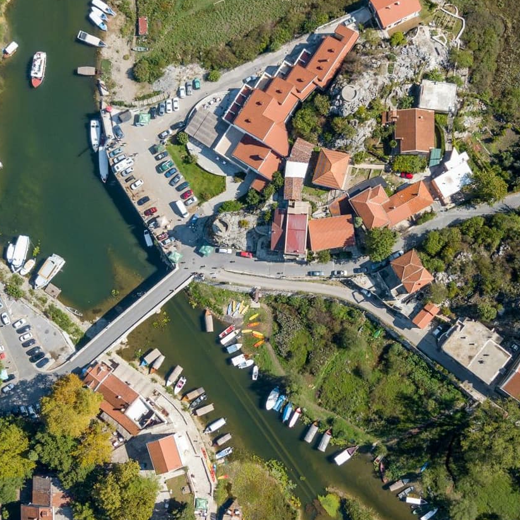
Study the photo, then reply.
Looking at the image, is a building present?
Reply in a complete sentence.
Yes, this view includes a building.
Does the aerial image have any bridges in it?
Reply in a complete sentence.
Yes, you can see a bridge in this photo.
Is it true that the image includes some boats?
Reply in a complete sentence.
Yes, I can see a boat in this picture.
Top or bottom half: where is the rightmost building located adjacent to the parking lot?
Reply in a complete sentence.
You can find the rightmost building located adjacent to the parking lot in the bottom half.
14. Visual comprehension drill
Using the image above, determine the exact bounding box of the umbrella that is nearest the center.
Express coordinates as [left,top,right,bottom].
[198,242,213,257]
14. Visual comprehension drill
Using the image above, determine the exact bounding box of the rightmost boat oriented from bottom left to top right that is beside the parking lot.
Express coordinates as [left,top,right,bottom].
[36,249,65,288]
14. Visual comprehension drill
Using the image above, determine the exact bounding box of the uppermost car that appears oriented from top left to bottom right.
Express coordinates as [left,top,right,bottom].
[110,122,124,139]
